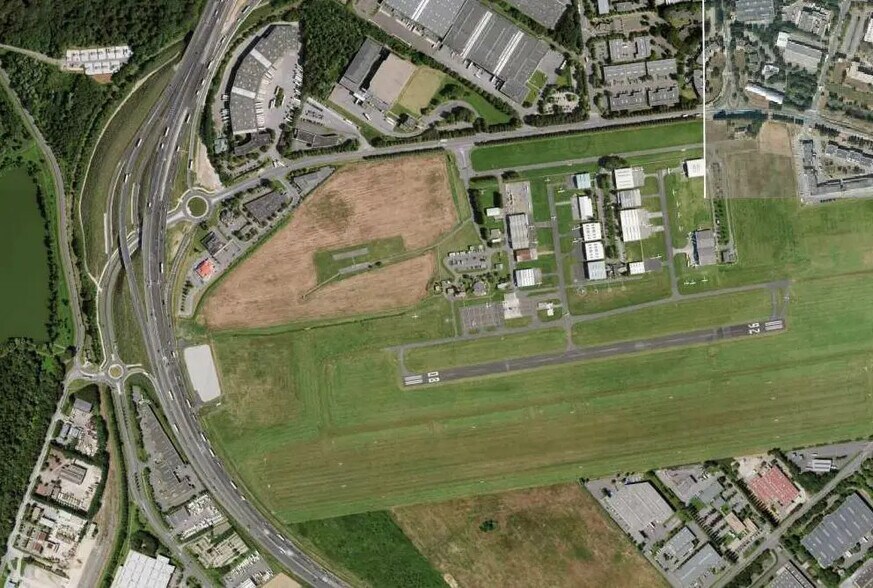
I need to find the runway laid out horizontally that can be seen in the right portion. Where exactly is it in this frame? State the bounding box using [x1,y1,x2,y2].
[404,320,787,385]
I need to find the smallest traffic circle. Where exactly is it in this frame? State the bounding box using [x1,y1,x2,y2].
[84,345,141,394]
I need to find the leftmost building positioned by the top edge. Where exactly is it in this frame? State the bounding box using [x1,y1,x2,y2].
[230,25,298,133]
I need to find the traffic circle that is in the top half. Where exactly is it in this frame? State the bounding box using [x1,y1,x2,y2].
[167,187,222,225]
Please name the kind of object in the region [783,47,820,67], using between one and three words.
building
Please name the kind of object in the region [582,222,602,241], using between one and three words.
hangar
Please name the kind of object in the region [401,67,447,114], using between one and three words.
sports field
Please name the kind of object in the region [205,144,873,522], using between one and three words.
airport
